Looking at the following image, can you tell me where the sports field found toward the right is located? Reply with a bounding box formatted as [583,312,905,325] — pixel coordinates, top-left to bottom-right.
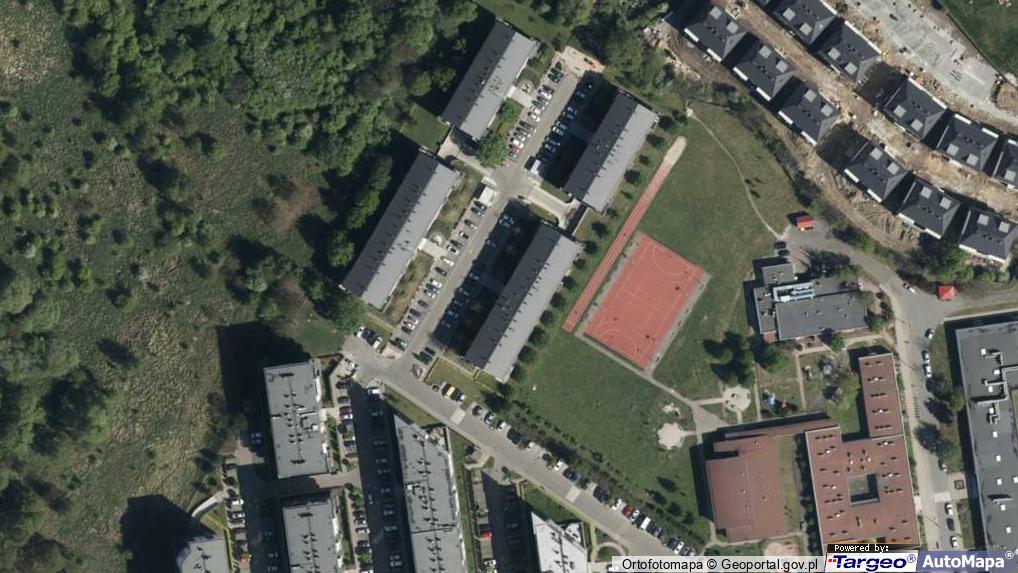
[502,104,784,535]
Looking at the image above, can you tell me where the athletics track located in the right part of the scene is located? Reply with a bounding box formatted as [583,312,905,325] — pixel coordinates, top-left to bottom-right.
[563,135,686,332]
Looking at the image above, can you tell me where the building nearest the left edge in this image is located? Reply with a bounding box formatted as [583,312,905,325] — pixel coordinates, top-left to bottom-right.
[178,531,238,573]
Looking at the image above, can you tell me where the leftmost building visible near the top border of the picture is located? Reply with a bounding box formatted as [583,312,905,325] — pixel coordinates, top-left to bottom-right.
[441,18,536,142]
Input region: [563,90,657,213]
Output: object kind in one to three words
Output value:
building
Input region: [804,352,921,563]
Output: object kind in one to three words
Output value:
building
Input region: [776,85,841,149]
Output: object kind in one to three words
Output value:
house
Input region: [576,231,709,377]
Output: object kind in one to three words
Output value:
sports court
